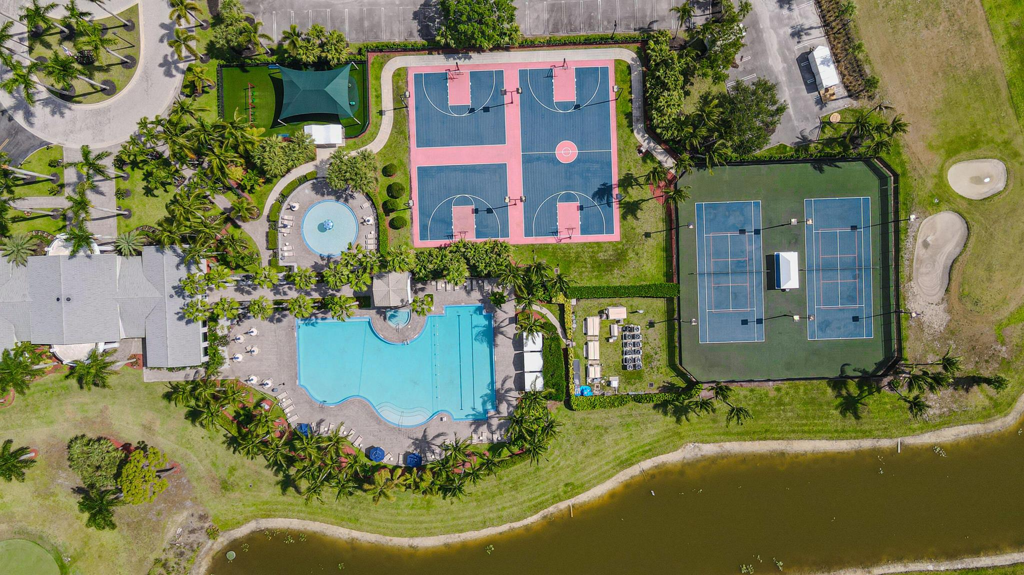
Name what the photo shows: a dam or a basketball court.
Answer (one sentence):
Of the two, only a basketball court appears.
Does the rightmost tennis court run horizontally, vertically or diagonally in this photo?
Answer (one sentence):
Seen from above, the rightmost tennis court lies vertically.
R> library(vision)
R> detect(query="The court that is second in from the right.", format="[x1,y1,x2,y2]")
[695,200,765,343]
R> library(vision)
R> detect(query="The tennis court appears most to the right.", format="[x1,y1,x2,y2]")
[805,197,874,340]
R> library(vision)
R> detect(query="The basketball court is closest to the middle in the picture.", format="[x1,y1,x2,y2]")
[416,162,509,241]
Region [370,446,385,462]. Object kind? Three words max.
umbrella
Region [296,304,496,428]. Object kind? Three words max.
swimming pool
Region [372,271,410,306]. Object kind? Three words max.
building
